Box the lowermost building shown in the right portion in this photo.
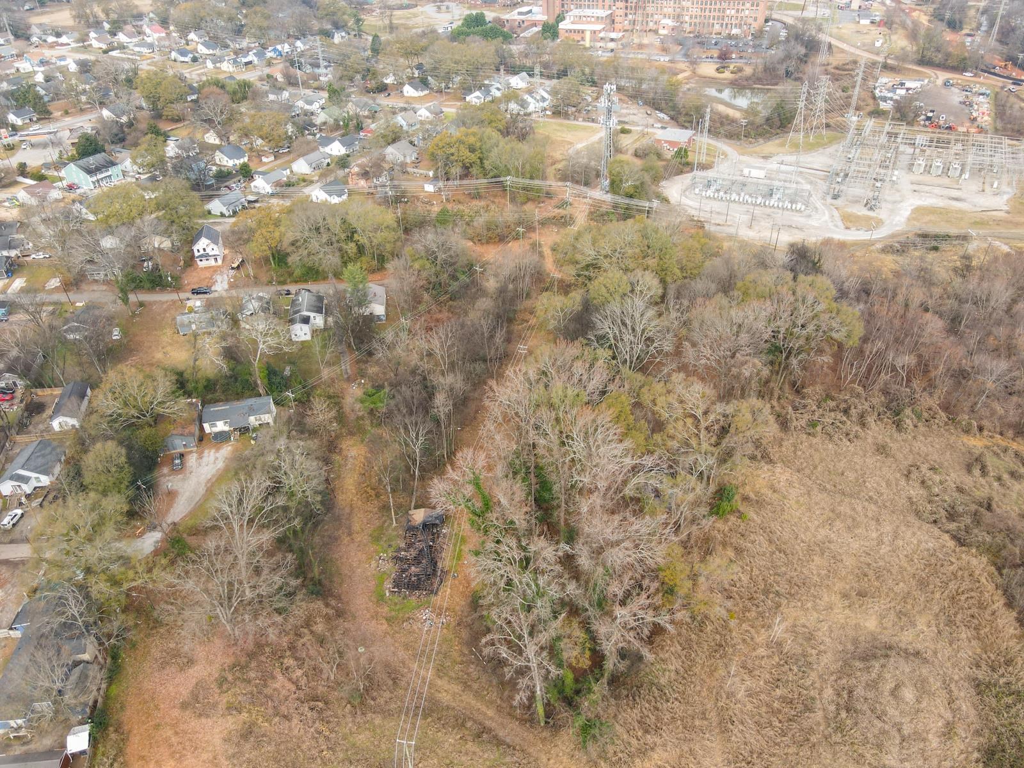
[653,131,694,152]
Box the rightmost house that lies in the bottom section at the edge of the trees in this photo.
[377,506,453,602]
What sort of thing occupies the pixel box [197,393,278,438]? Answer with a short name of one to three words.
house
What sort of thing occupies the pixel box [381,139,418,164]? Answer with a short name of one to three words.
house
